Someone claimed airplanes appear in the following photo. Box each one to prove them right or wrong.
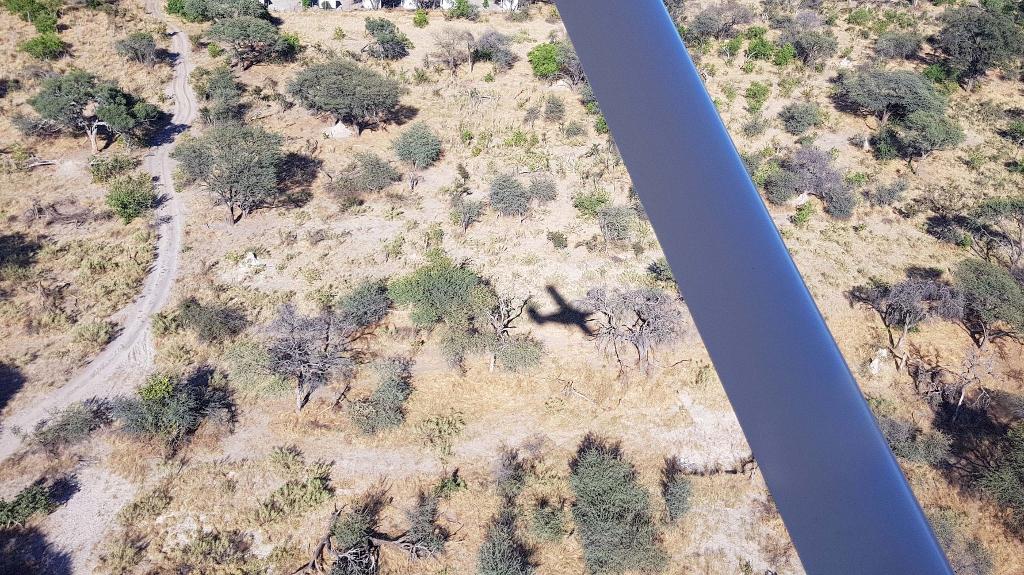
[555,0,951,575]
